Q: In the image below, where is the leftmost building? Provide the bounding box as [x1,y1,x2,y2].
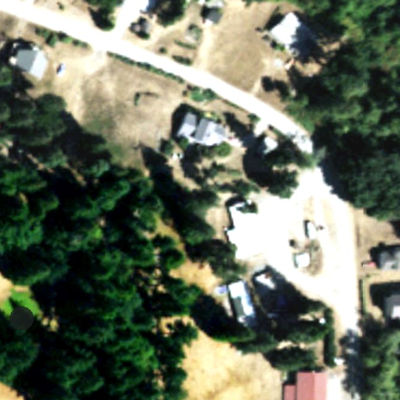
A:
[15,46,47,77]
